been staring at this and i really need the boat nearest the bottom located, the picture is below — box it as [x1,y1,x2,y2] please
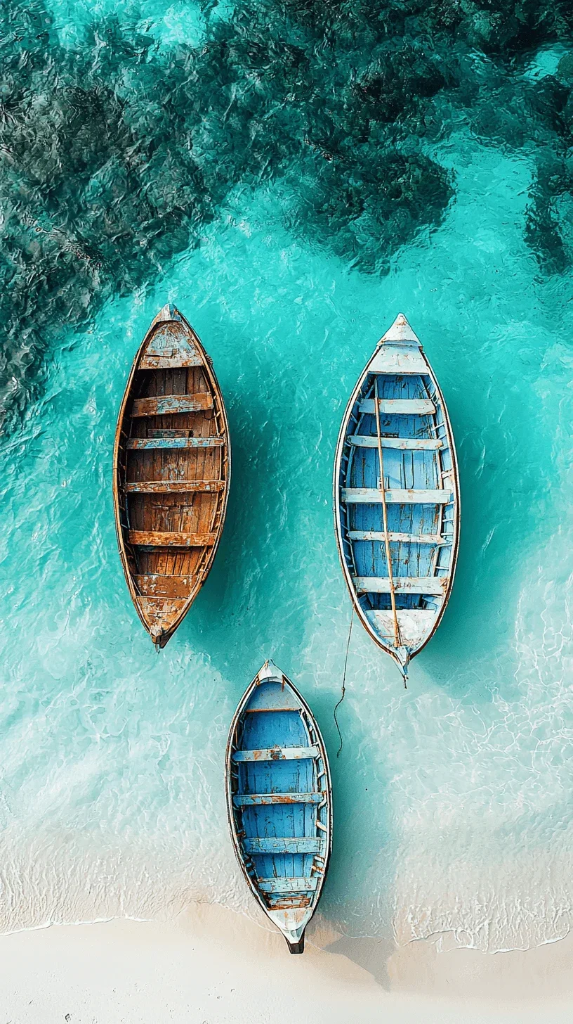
[225,659,332,953]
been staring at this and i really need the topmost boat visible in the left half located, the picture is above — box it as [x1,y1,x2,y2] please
[113,302,230,651]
